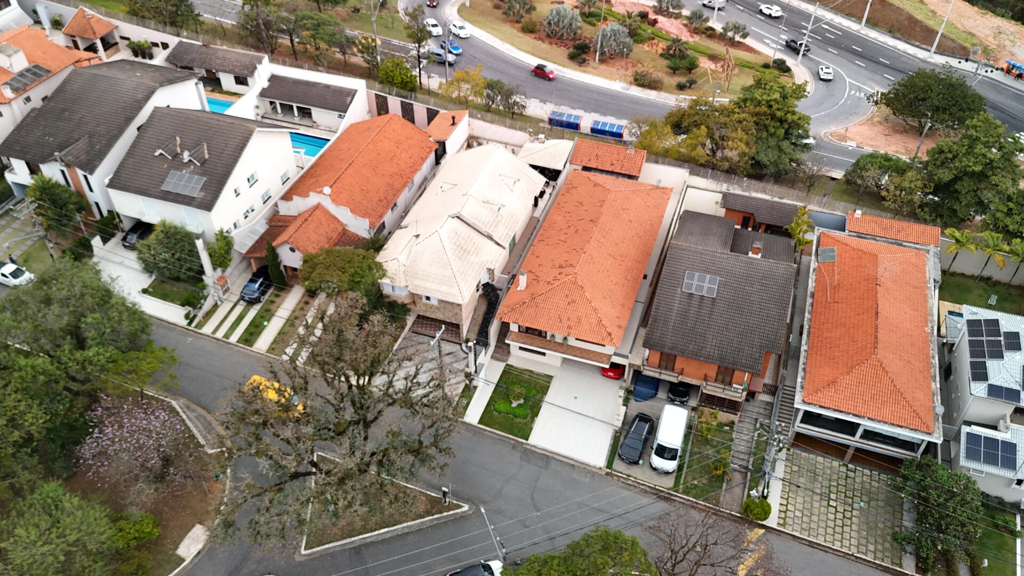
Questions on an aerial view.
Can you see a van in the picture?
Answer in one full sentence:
Yes, the picture does show a van.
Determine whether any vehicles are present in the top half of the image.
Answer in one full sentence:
Yes, a vehicle can be seen in the top half of the image.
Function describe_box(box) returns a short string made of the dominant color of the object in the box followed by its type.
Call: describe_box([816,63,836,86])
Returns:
white car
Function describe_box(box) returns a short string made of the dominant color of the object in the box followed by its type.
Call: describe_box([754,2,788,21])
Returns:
white car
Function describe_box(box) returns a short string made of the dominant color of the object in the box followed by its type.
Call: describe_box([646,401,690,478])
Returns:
white van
